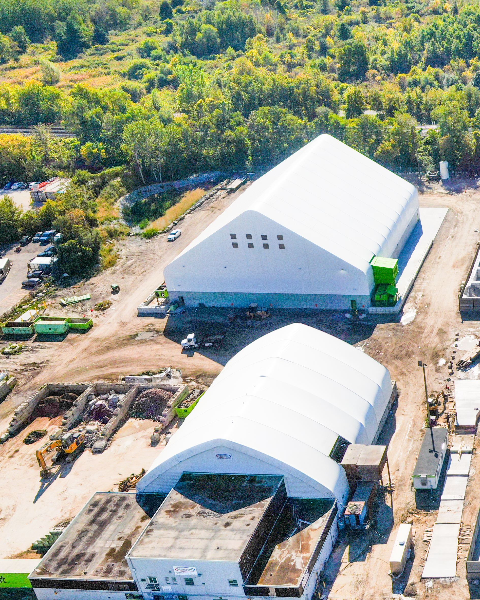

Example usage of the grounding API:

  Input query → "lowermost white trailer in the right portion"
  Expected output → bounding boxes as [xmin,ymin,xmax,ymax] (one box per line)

[390,524,413,585]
